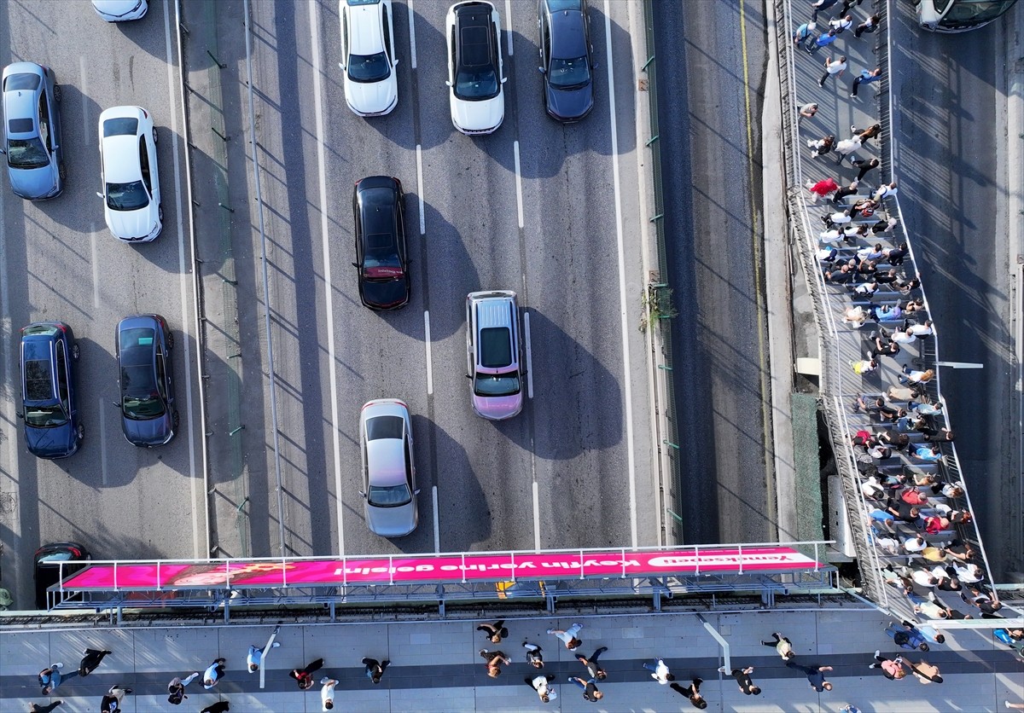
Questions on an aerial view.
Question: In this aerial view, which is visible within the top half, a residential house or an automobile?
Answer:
automobile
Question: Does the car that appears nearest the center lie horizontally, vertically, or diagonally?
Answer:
vertically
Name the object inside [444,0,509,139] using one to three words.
car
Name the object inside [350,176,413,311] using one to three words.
car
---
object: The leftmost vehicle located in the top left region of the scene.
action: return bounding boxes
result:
[0,63,70,200]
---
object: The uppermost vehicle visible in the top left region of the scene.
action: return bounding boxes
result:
[94,0,153,26]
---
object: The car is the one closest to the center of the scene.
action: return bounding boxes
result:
[464,290,529,420]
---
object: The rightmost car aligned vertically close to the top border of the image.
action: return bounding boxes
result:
[536,0,600,127]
